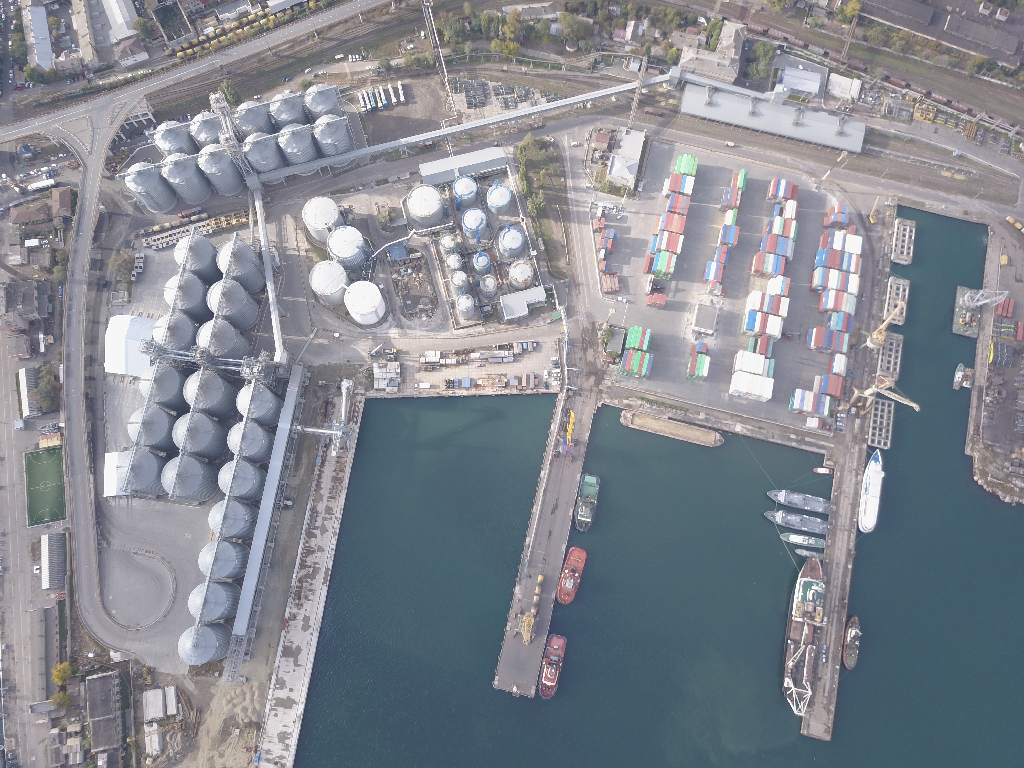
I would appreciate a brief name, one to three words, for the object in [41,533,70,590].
shed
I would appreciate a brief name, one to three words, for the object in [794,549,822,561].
boat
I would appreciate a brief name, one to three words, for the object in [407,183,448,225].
storage tank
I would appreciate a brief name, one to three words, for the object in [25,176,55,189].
vehicle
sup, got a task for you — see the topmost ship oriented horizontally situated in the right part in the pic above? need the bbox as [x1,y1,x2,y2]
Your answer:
[620,408,725,449]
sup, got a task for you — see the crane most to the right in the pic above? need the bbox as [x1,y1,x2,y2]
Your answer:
[950,285,1009,339]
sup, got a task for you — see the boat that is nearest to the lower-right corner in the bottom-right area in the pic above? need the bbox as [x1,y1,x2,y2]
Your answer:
[842,616,862,670]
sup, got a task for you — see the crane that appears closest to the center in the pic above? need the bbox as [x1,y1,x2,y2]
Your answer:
[553,410,580,464]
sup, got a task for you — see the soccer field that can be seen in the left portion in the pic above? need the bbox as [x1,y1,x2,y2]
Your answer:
[17,447,67,528]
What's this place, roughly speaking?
port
